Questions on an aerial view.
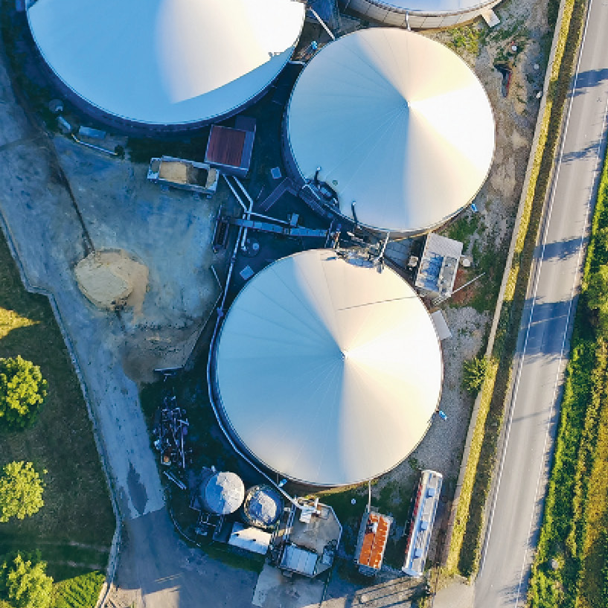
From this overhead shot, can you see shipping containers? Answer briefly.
Yes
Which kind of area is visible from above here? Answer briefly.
industrial area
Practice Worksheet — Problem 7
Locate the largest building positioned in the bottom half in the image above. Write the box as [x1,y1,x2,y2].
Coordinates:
[229,523,270,557]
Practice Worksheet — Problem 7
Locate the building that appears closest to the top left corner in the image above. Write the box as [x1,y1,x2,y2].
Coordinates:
[204,124,255,175]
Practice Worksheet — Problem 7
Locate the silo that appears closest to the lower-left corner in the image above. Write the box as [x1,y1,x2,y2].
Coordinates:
[196,465,247,516]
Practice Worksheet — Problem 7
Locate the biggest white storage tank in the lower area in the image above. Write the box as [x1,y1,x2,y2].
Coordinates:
[210,241,445,490]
